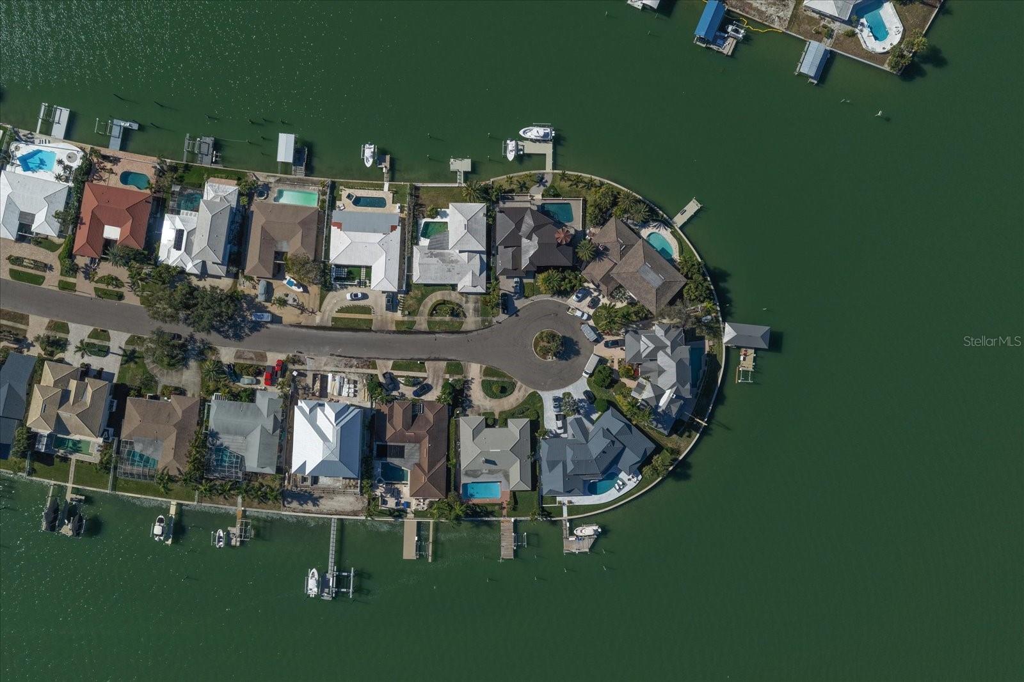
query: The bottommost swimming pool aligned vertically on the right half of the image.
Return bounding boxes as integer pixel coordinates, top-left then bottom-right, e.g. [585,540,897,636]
[691,345,704,385]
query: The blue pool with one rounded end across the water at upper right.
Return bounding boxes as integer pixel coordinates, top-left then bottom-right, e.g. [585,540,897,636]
[857,1,890,42]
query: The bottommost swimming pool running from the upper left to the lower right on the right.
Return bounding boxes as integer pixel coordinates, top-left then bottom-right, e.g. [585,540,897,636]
[647,231,674,258]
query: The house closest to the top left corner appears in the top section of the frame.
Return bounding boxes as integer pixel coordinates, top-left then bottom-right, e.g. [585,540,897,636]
[0,170,69,240]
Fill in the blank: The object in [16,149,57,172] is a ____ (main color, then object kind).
blue swimming pool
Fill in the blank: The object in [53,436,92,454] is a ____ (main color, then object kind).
green swimming pool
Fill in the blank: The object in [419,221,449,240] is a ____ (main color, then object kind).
green swimming pool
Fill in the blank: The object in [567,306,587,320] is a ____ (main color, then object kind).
white vehicle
